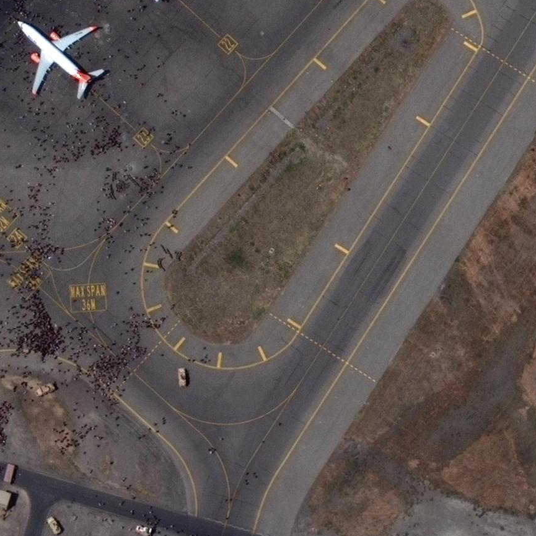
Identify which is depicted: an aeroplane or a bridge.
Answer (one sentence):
Of the two, only an aeroplane appears.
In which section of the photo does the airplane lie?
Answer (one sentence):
The airplane appears toward the top left of the photo.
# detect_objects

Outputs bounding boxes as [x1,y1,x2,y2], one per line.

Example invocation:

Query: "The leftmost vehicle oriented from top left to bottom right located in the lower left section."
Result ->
[48,516,62,534]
